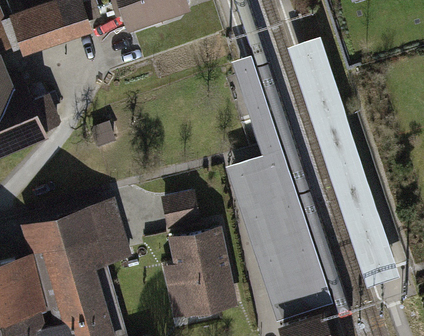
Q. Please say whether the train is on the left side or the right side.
right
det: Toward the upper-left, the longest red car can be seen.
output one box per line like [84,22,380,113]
[94,18,126,36]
